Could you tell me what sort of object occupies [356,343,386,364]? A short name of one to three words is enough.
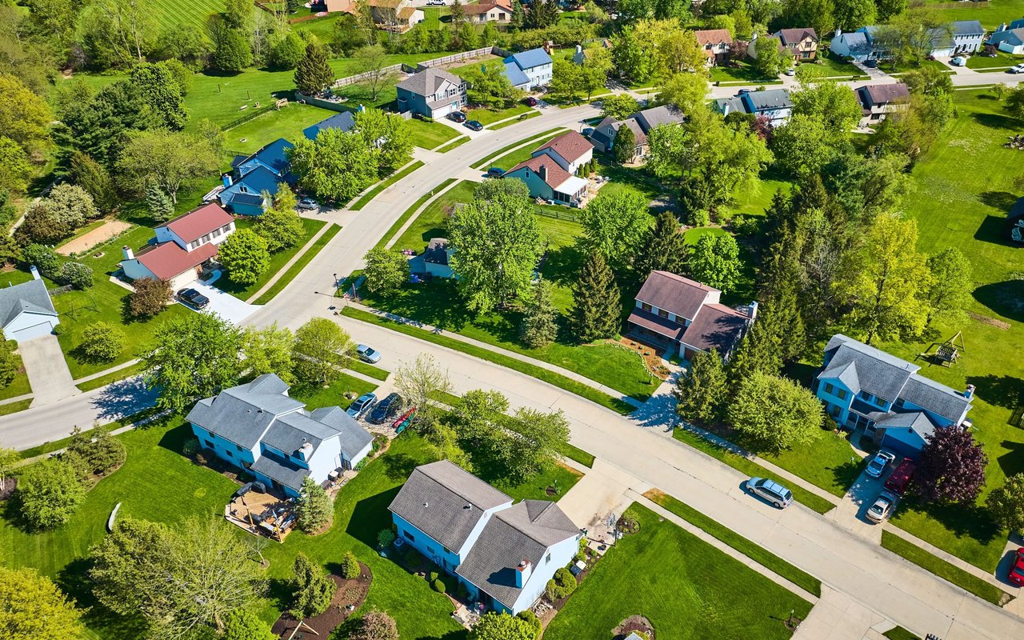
car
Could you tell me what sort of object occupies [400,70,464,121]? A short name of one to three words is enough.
house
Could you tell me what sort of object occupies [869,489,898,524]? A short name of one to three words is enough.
car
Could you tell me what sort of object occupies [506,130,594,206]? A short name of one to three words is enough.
house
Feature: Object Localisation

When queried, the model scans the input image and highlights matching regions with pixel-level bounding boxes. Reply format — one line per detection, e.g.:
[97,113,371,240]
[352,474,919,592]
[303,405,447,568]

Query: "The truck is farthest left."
[178,288,208,309]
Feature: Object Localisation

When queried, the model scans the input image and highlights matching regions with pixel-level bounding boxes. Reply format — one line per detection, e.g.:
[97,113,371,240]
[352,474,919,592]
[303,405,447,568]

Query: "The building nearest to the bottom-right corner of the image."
[809,334,974,456]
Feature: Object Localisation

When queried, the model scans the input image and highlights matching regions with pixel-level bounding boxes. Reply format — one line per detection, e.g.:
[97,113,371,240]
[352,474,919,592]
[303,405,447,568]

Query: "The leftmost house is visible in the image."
[0,266,62,344]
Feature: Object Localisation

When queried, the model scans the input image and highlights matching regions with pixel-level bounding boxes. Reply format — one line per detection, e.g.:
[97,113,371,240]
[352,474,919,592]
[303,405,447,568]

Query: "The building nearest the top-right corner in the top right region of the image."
[981,13,1024,57]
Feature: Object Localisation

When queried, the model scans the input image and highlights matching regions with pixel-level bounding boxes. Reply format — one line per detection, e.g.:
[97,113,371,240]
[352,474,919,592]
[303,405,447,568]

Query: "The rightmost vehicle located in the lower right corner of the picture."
[1002,546,1024,585]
